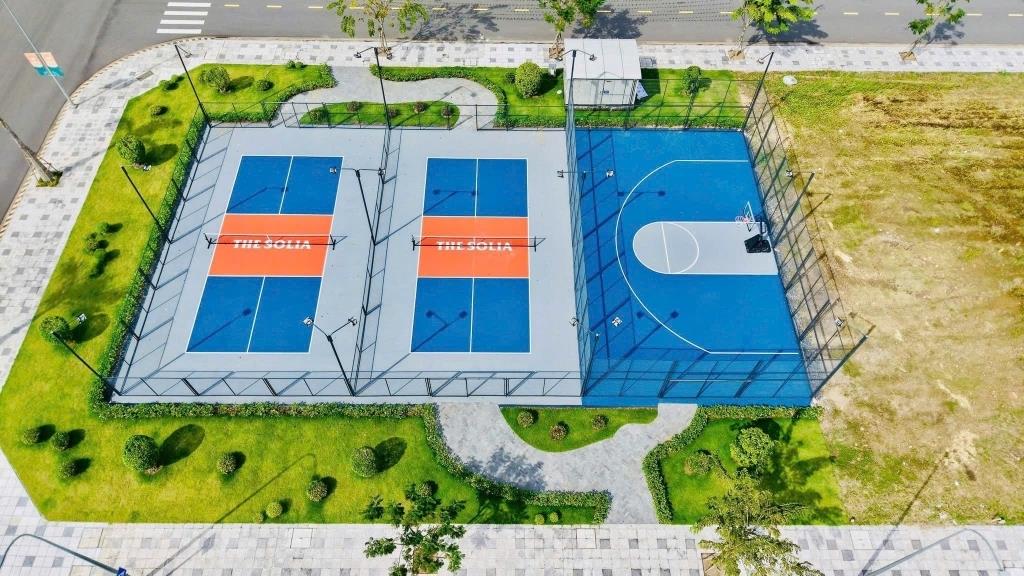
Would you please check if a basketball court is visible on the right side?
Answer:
Yes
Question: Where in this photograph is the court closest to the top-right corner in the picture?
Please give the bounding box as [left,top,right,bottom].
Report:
[567,128,814,406]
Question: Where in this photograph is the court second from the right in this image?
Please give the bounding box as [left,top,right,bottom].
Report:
[354,126,585,405]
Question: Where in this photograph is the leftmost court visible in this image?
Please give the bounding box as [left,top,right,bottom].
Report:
[109,123,389,404]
